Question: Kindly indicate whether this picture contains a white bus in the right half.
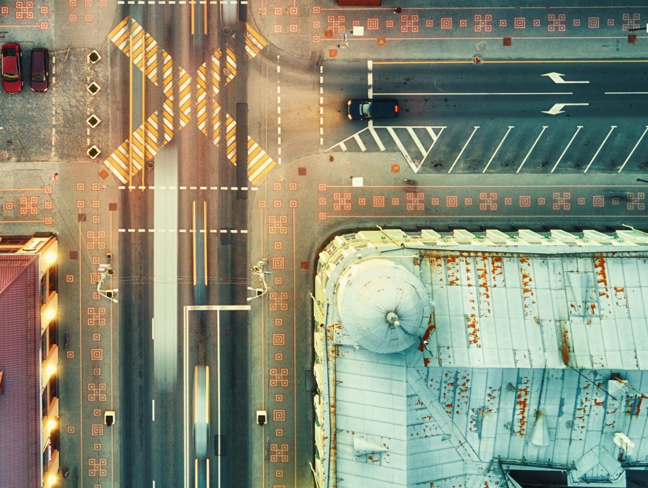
No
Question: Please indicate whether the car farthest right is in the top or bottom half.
top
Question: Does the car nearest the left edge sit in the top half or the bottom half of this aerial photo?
top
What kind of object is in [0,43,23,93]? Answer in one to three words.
car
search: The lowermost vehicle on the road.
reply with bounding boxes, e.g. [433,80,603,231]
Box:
[193,463,213,488]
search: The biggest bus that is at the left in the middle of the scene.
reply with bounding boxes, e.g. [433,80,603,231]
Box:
[153,148,180,328]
